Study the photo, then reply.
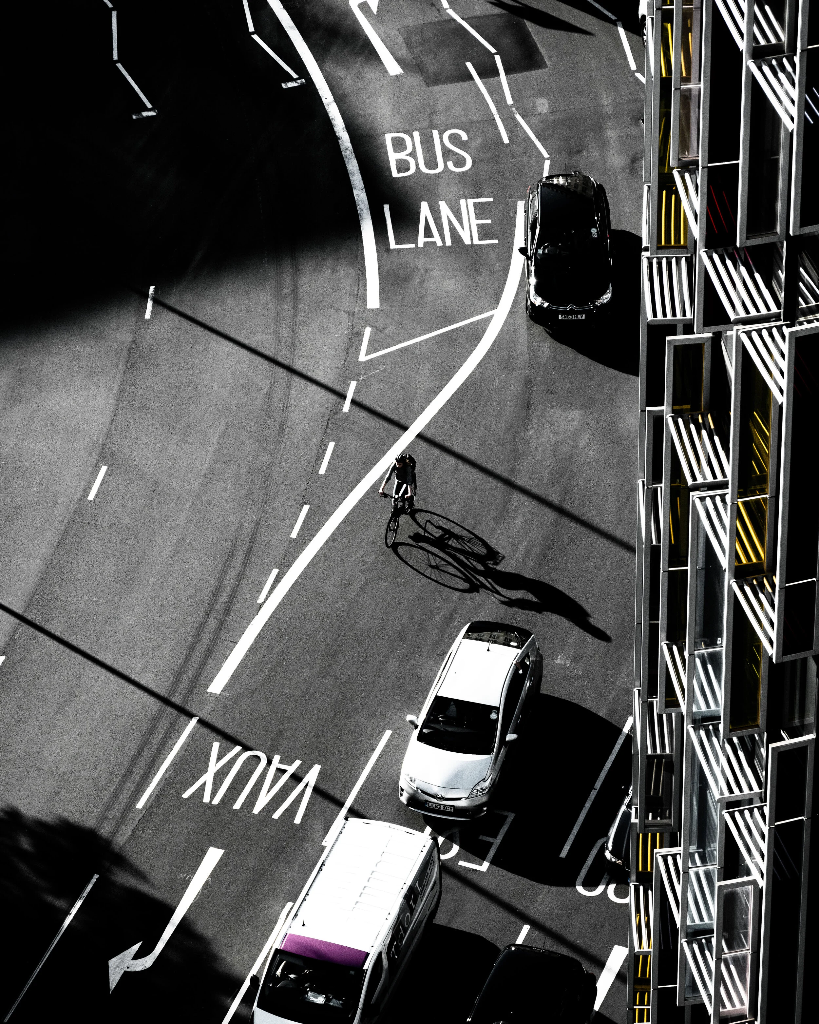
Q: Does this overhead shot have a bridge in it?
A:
No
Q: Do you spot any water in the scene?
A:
No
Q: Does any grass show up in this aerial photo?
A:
No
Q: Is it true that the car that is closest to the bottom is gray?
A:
No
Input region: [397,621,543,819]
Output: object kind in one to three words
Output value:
car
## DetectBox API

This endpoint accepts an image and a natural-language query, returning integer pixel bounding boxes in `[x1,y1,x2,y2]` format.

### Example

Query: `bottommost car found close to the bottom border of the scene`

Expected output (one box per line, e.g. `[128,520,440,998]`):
[462,932,599,1024]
